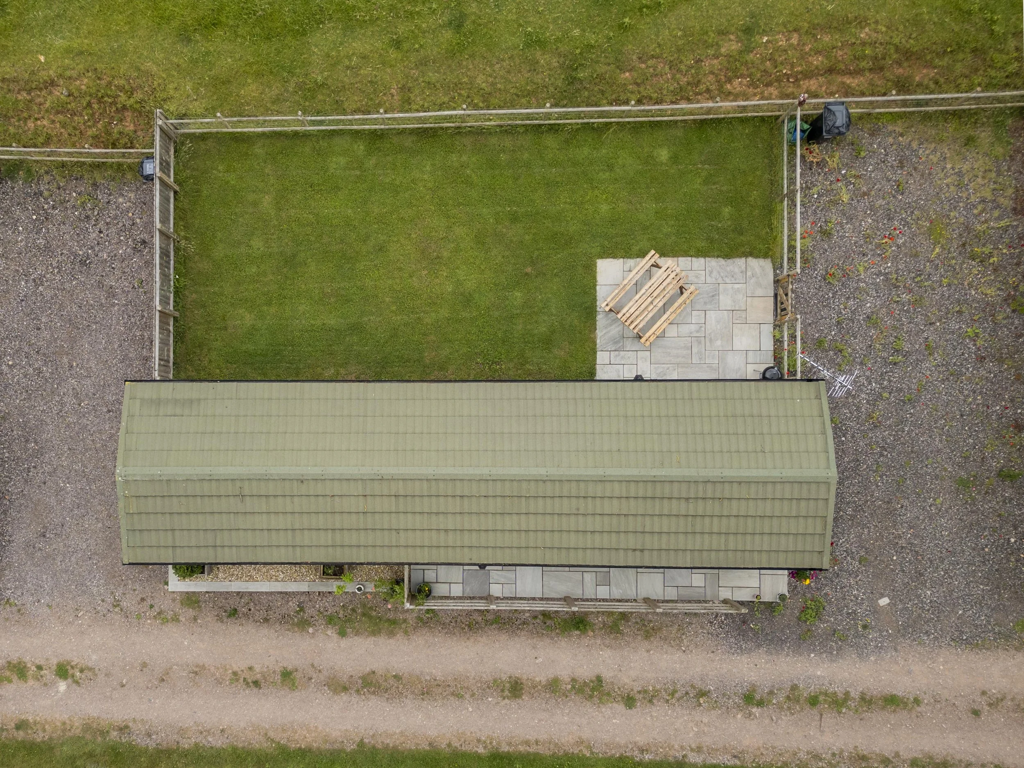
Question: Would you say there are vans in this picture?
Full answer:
No, there is no van in the image.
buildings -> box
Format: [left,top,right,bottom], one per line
[113,379,839,568]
